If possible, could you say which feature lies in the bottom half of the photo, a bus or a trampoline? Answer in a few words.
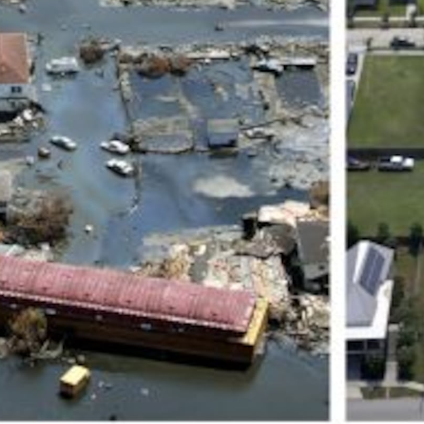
bus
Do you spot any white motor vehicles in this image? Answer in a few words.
Yes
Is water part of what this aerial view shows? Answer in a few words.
Yes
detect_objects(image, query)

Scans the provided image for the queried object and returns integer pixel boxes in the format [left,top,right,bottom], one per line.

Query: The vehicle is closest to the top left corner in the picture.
[48,58,77,70]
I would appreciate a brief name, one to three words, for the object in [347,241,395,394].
house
